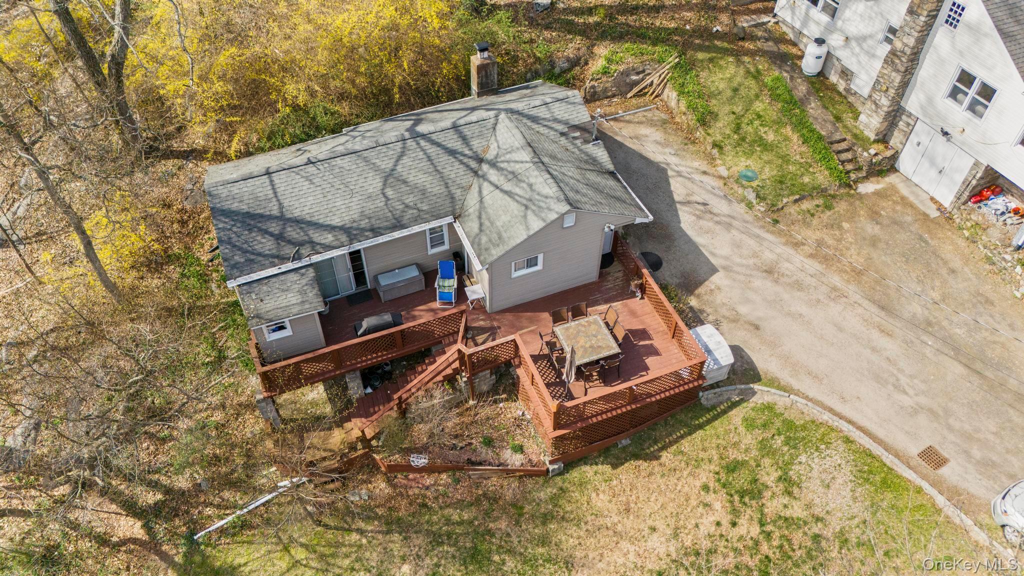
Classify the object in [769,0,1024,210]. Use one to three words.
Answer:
house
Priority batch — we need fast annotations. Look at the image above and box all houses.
[202,35,657,366]
[769,0,1024,210]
